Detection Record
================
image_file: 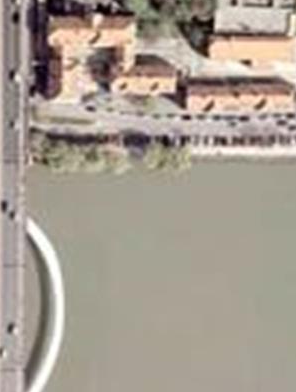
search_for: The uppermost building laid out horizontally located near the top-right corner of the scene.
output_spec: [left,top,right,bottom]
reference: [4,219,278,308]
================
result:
[213,0,296,34]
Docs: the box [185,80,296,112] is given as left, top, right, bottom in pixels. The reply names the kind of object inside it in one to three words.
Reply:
house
